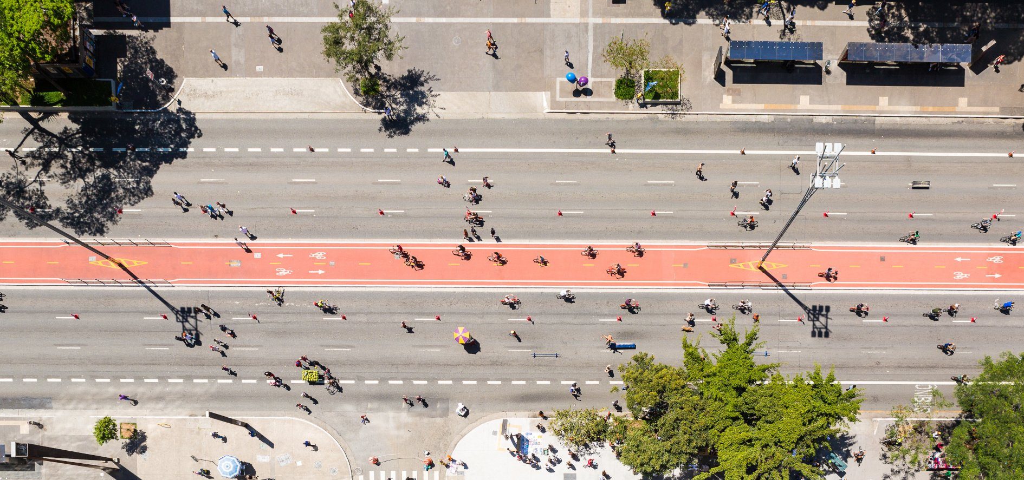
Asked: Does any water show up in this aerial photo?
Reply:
No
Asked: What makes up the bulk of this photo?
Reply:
paved ground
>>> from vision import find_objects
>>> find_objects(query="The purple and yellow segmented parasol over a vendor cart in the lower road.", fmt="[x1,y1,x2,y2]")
[453,327,469,344]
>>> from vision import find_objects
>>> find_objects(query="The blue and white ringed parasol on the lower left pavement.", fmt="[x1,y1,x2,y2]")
[219,456,241,477]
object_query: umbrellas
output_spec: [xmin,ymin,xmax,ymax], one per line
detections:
[219,456,241,477]
[453,327,469,344]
